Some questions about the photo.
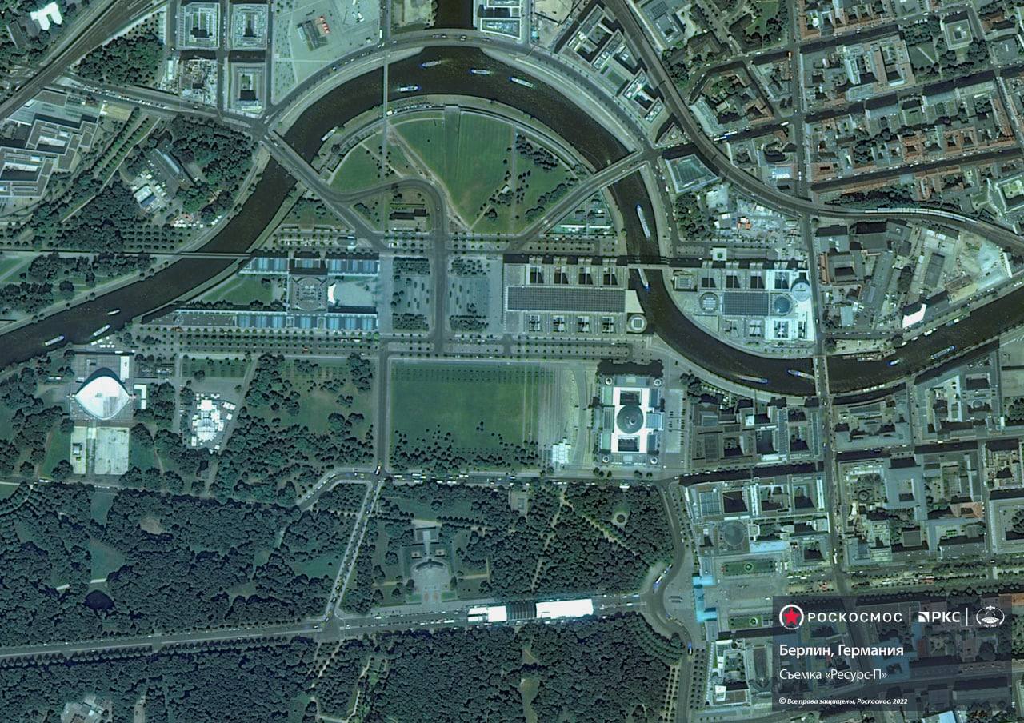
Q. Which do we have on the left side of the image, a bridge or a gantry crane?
bridge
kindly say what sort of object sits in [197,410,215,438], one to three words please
tent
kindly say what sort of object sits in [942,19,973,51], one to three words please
house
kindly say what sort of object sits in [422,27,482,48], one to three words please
bridge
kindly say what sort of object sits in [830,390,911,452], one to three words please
building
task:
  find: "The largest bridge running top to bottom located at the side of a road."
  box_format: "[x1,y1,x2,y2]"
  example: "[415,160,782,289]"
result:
[813,350,828,404]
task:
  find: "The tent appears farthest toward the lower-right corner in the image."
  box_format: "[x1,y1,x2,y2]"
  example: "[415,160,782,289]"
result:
[535,599,593,619]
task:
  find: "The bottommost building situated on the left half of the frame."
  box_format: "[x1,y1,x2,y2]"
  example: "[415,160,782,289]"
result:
[64,694,106,723]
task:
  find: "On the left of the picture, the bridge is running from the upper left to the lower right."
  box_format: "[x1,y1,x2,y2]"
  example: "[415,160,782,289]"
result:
[260,128,317,185]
